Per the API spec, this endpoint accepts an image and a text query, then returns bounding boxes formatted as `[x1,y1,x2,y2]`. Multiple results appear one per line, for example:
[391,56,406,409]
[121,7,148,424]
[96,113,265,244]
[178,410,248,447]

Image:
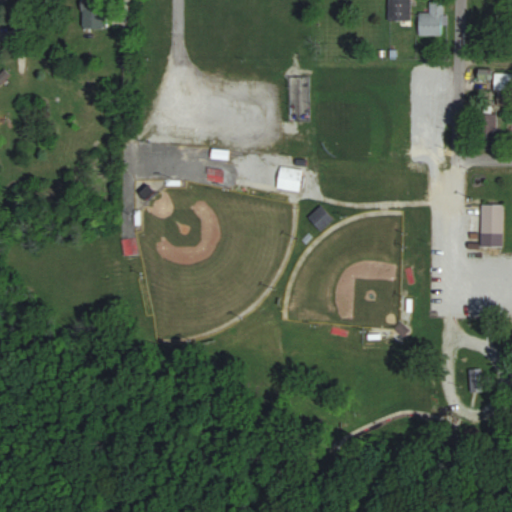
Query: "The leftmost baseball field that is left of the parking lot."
[140,182,298,344]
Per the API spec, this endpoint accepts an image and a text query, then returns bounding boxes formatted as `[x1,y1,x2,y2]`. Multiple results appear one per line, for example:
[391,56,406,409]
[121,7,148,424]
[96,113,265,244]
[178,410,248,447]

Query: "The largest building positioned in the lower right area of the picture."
[468,369,483,395]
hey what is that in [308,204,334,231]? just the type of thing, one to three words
building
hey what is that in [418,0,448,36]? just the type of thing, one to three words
house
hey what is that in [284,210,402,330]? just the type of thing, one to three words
baseball field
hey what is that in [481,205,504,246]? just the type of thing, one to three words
building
